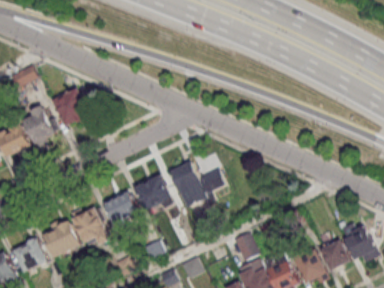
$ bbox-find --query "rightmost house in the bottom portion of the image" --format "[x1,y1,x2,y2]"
[344,226,380,261]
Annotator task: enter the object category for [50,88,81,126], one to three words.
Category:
house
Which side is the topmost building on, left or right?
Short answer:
left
